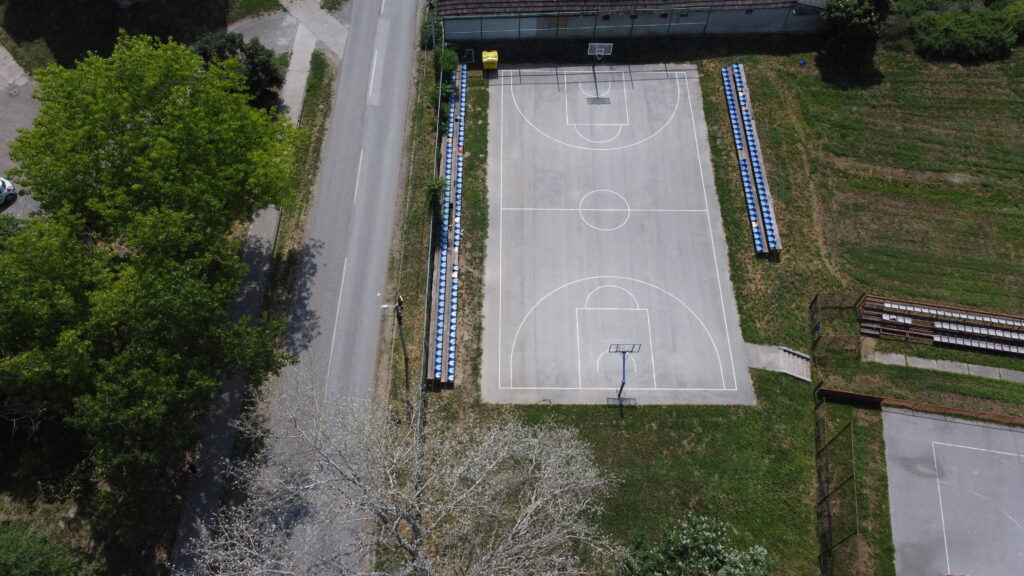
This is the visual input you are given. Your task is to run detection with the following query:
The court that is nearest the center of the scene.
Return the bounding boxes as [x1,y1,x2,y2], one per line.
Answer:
[481,61,756,405]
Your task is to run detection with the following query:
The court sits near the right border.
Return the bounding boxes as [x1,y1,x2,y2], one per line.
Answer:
[883,410,1024,576]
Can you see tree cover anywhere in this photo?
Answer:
Yes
